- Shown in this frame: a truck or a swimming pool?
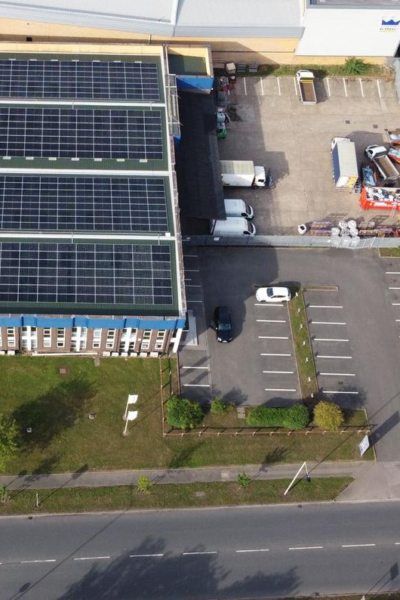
truck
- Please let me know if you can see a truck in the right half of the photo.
Yes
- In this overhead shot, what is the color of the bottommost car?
black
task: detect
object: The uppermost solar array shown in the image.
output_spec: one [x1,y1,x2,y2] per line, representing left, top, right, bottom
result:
[0,59,158,100]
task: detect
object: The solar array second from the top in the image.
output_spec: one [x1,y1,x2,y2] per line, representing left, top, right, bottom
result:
[0,107,162,161]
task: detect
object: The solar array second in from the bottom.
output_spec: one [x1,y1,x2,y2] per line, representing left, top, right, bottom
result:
[0,175,168,231]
